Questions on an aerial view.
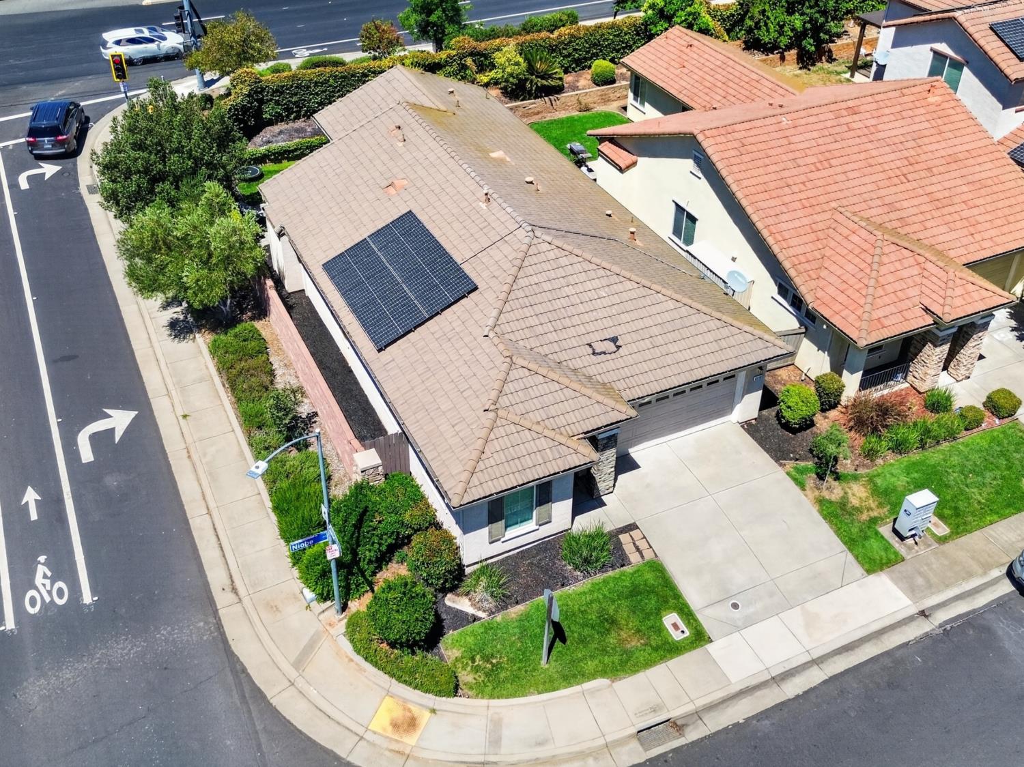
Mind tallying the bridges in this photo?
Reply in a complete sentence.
Not a single bridge can be seen.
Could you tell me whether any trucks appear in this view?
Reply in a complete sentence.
No, I can't see a single truck in this photo.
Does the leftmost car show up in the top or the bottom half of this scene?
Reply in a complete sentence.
It is in the top half that the leftmost car appears.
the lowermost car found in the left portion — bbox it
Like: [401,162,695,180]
[29,95,89,148]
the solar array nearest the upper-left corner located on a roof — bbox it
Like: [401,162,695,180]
[322,209,476,351]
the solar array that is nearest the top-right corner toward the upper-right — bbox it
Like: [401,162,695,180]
[992,16,1024,60]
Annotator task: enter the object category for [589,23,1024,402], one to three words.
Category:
house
